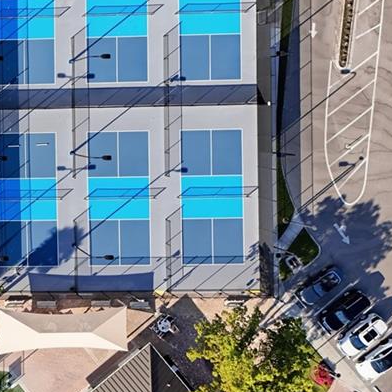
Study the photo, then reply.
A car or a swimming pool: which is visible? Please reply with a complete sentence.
The image shows a car.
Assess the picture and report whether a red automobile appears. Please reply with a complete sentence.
No, no red automobile is visible in the view.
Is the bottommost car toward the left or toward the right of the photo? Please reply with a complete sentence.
The bottommost car appears in the right half of the scene.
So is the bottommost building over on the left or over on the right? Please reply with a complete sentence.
It is on the left.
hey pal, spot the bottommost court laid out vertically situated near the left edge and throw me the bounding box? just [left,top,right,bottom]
[0,132,64,267]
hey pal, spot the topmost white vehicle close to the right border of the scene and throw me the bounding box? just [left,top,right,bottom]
[337,314,388,357]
